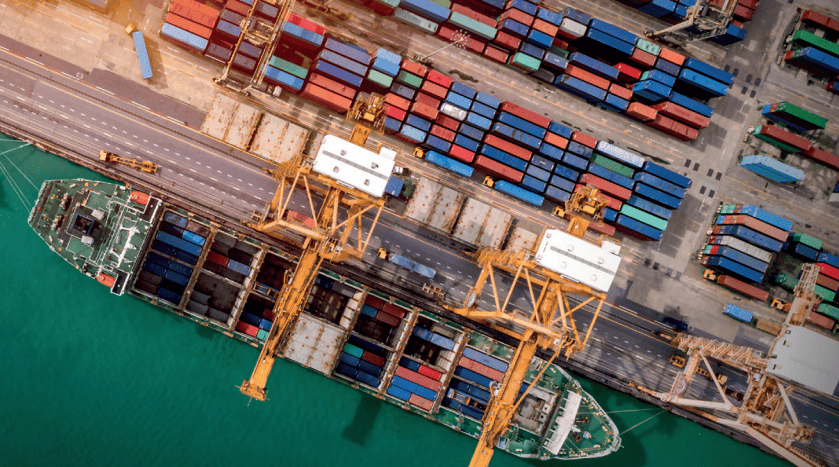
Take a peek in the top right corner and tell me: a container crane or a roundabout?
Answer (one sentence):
The one visible in the top right corner is a container crane.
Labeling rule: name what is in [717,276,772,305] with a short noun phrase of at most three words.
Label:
shipping container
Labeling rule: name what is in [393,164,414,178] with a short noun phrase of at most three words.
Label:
vehicle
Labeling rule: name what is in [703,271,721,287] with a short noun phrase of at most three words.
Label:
vehicle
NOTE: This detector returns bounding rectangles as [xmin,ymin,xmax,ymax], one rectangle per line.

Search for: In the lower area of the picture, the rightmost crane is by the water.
[640,261,839,467]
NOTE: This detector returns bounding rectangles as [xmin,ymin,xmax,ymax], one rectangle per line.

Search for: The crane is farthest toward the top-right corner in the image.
[644,0,741,50]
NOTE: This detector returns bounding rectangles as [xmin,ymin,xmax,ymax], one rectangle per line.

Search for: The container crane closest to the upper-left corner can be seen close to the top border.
[210,0,290,97]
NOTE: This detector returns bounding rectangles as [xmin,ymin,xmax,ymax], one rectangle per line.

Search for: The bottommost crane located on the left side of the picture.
[238,89,398,406]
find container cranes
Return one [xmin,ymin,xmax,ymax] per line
[640,261,839,467]
[438,180,620,467]
[644,0,741,50]
[238,89,398,406]
[210,0,290,97]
